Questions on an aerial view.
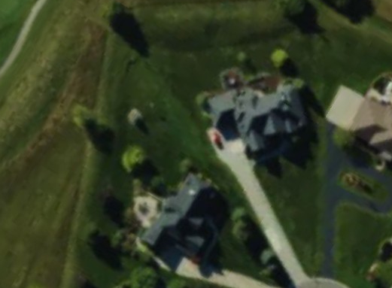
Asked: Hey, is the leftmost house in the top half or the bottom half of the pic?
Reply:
bottom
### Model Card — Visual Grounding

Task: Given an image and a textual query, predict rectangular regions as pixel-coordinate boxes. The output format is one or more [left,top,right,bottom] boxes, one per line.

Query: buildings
[348,94,392,163]
[138,167,226,263]
[204,80,311,159]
